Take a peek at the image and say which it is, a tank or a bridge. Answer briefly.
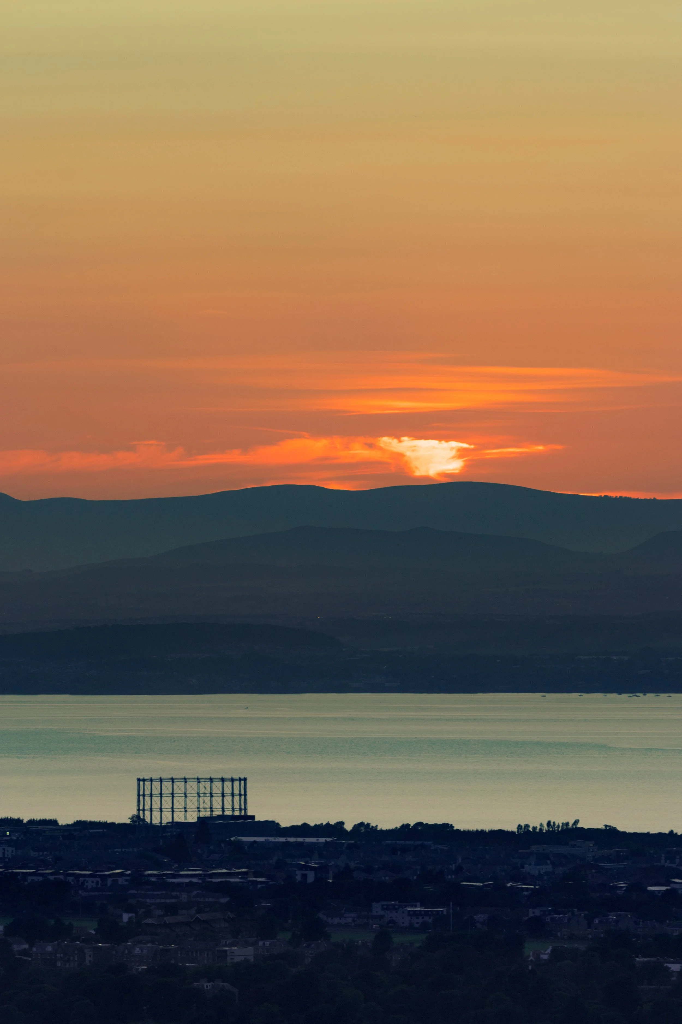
tank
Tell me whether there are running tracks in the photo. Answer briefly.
No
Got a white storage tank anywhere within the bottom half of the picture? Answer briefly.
No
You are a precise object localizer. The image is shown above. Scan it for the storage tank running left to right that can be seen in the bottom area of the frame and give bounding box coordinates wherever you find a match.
[137,775,248,831]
